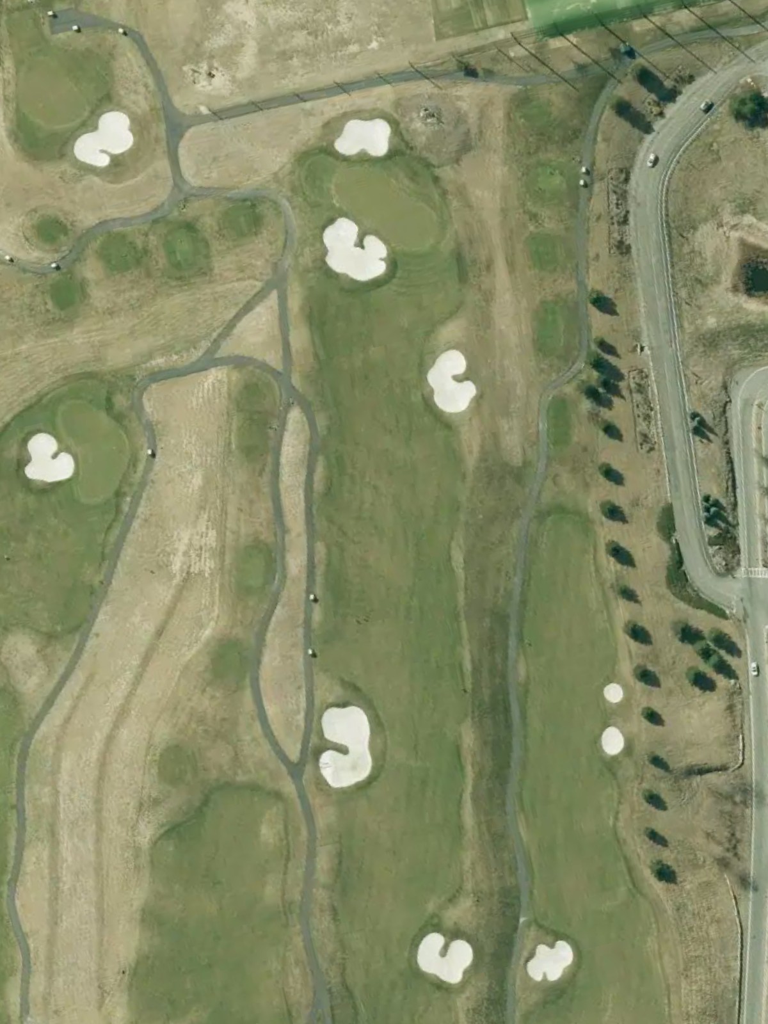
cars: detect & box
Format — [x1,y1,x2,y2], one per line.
[698,99,712,112]
[751,661,758,676]
[647,153,657,168]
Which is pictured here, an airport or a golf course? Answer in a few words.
golf course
